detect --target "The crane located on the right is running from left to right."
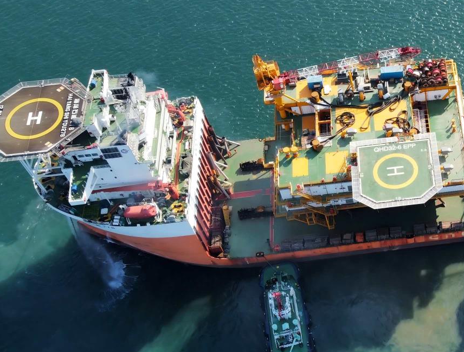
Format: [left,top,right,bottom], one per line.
[247,42,427,131]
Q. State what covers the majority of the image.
water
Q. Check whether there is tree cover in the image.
No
